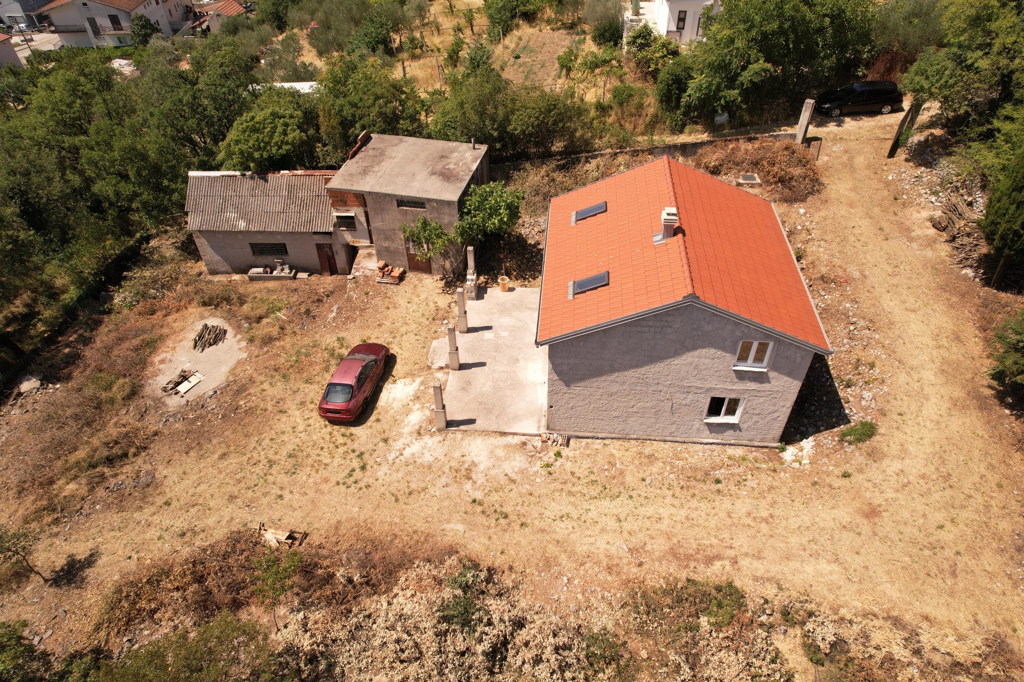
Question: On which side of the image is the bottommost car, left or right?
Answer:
left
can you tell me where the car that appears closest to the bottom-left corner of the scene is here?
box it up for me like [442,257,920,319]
[318,341,391,424]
